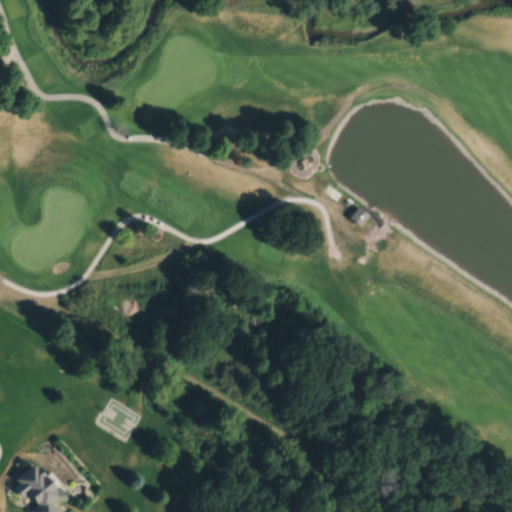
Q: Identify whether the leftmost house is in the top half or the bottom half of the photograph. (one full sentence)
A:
The bottom half of the photo is where the leftmost house is.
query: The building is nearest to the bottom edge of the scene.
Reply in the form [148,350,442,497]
[20,466,70,512]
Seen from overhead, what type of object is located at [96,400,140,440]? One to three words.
sports court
